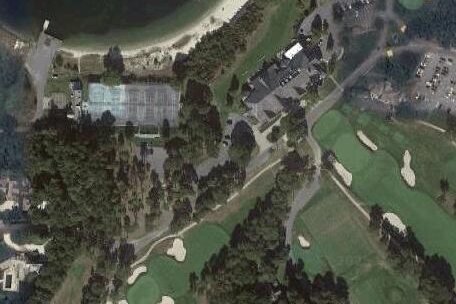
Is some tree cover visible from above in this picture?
Yes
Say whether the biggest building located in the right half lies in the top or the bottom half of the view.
top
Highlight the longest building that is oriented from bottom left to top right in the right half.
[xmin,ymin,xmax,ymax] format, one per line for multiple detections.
[242,50,321,108]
